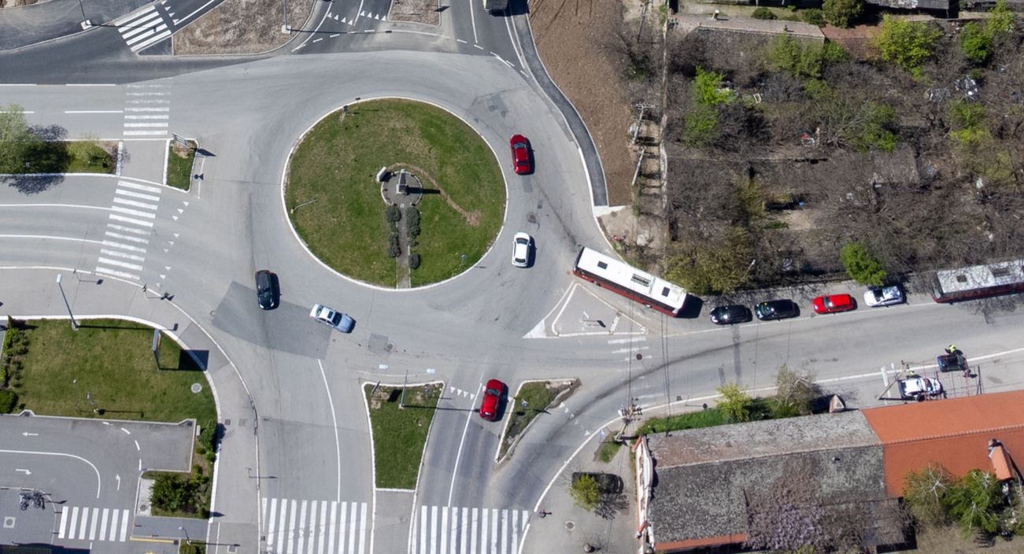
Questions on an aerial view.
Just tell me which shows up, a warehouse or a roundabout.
roundabout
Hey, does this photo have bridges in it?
No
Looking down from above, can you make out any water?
No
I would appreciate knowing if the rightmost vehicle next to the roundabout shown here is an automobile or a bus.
bus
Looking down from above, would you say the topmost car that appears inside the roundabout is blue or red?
red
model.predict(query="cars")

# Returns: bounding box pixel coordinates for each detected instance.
[935,353,968,372]
[898,375,942,397]
[754,299,799,321]
[711,304,752,326]
[480,380,505,422]
[256,270,277,310]
[512,233,532,268]
[510,137,530,174]
[308,303,354,334]
[863,287,904,307]
[813,293,855,315]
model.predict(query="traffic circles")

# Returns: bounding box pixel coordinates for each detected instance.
[246,52,586,347]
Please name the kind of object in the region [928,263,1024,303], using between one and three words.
bus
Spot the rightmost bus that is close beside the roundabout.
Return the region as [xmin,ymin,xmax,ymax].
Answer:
[572,248,688,325]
